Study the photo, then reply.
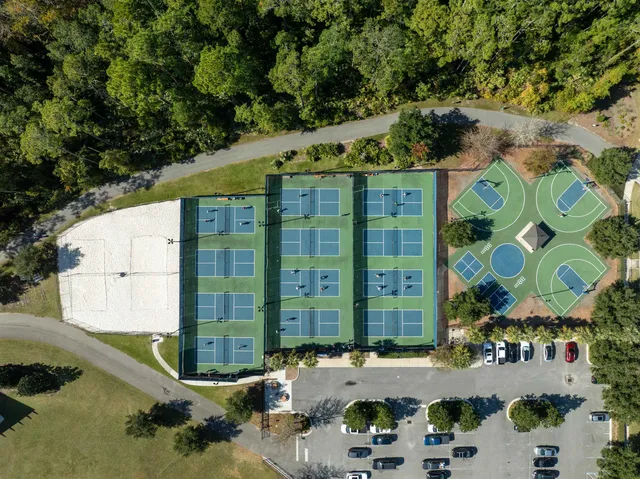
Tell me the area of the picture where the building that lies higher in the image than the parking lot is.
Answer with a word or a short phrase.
right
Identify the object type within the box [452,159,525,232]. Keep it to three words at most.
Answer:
basketball court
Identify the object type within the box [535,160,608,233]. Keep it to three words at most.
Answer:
basketball court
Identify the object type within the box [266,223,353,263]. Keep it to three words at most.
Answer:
sports court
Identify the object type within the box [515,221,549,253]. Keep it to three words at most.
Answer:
building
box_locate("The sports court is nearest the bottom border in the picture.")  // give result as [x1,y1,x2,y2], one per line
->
[183,329,266,375]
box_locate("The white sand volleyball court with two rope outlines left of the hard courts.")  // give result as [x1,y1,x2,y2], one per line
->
[57,198,183,336]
